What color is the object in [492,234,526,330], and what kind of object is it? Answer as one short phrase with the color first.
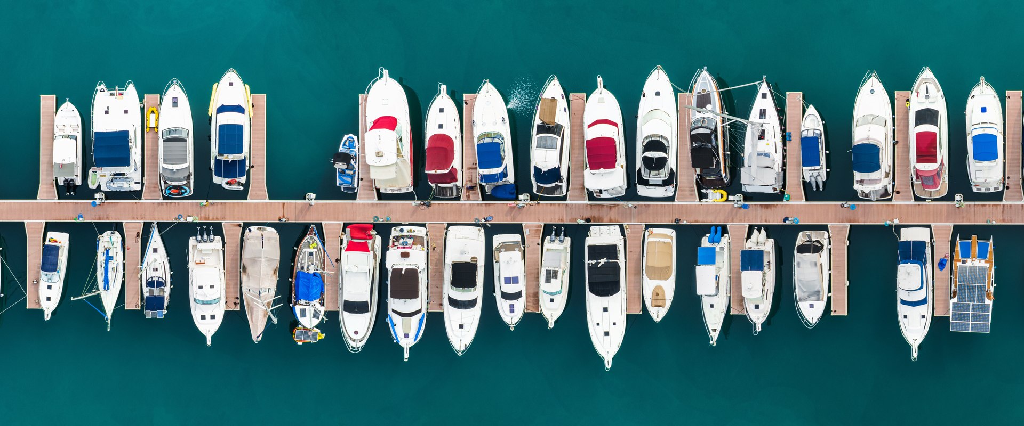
white boat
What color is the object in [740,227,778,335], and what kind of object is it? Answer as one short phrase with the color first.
white boat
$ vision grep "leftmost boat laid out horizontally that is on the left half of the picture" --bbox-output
[105,177,136,191]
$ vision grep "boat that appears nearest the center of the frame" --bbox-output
[492,184,516,199]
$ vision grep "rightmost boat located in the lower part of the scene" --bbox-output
[950,233,996,333]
